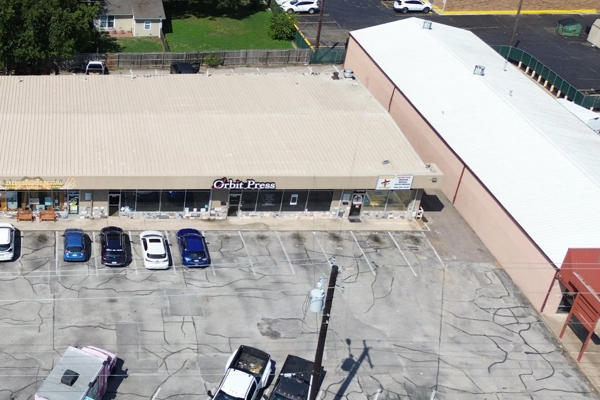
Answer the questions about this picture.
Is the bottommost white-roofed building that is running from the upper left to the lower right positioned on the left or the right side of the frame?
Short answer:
right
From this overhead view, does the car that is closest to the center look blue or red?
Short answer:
blue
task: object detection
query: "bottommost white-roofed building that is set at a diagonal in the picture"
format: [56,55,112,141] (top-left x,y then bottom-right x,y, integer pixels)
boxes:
[341,17,600,334]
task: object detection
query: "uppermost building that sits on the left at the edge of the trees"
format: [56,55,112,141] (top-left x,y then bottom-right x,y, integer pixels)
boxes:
[90,0,167,35]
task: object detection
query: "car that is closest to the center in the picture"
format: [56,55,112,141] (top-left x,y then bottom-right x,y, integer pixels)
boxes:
[177,223,210,265]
